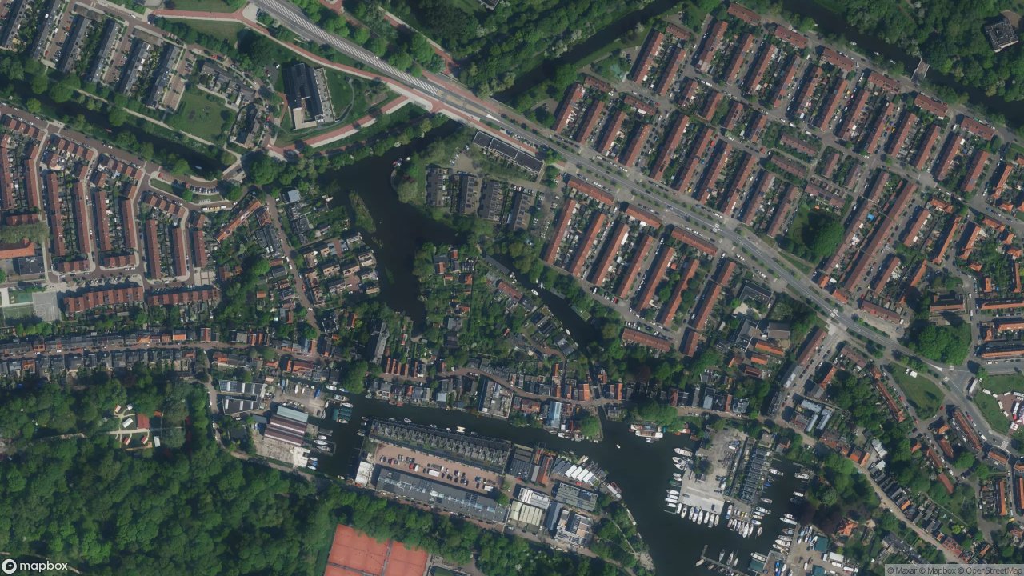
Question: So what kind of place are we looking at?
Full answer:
It's a residential area.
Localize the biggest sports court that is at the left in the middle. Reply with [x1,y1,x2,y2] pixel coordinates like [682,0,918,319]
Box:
[32,291,59,321]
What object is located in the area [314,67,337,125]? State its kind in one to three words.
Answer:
building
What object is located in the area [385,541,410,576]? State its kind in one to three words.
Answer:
tennis court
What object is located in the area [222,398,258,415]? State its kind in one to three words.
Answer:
building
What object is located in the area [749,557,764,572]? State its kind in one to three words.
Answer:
boat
